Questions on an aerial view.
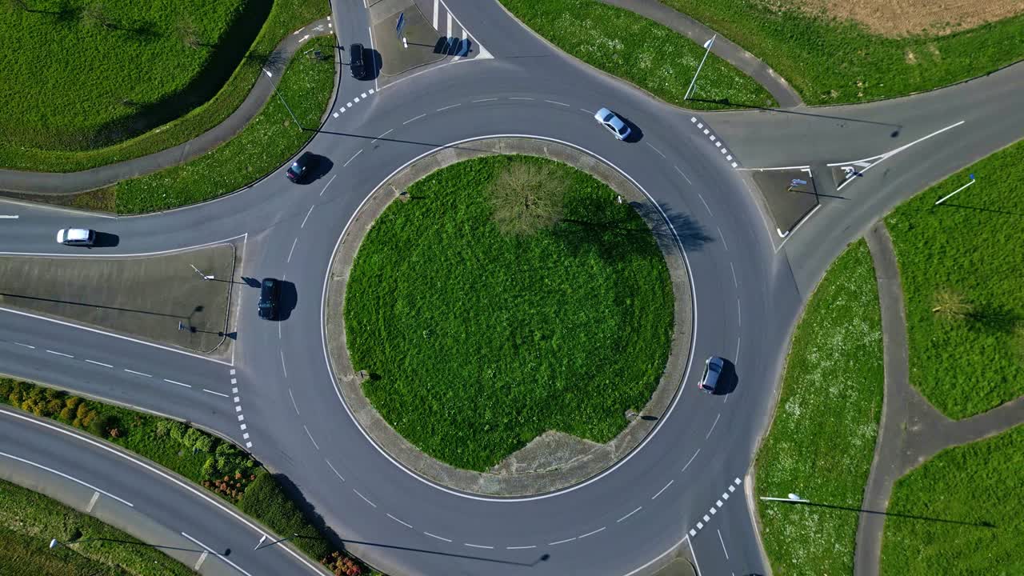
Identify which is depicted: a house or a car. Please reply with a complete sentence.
Of the two, only a car appears.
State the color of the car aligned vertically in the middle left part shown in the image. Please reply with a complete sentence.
The color of the car aligned vertically in the middle left part is black.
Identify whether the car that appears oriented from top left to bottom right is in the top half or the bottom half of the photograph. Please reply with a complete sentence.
The car that appears oriented from top left to bottom right sits in the top half of the picture.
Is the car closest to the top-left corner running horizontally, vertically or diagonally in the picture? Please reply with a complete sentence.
In this picture, the car closest to the top-left corner is oriented horizontally.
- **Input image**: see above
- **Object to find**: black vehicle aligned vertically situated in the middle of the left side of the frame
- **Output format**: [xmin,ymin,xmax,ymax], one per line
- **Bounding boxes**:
[258,278,280,320]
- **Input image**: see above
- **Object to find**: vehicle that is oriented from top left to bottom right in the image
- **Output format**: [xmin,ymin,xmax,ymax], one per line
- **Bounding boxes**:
[595,109,632,141]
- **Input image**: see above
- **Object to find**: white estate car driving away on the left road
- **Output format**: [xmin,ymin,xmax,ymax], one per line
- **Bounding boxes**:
[57,227,99,247]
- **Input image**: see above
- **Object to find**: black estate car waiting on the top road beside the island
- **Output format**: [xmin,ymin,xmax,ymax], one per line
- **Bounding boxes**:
[349,43,367,80]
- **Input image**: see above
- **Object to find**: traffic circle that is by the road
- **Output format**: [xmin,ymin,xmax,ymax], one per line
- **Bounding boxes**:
[213,46,804,576]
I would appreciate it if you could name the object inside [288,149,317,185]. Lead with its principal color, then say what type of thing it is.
black car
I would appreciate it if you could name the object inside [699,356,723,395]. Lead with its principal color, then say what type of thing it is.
blue car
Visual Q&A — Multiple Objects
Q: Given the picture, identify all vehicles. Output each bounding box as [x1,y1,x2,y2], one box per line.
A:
[258,278,280,320]
[349,43,367,80]
[57,227,99,247]
[595,109,632,141]
[288,149,317,185]
[699,356,723,395]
